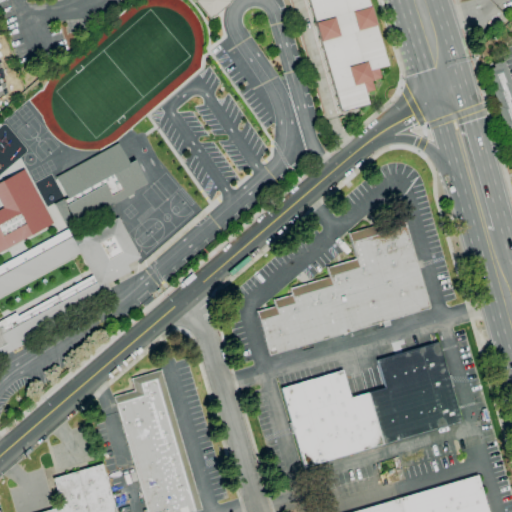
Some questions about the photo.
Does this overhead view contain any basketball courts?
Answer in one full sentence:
Yes, I can see a basketball court in this picture.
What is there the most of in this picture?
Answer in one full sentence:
What you mostly see from above here is paved ground.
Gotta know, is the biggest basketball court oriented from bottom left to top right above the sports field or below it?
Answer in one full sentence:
As seen from overhead, the biggest basketball court oriented from bottom left to top right falls below the sports field in the picture.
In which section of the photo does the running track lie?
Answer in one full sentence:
The running track sits in the top left section of the image.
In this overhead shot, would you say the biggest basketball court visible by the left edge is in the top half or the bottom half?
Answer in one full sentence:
The biggest basketball court visible by the left edge is in the top half of the image.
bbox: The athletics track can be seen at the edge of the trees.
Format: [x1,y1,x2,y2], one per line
[32,0,203,151]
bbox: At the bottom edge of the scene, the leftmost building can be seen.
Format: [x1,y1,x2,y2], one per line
[36,464,117,512]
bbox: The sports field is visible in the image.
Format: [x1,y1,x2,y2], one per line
[52,7,196,142]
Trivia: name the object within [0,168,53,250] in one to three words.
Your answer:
building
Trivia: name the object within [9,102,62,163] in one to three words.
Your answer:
basketball court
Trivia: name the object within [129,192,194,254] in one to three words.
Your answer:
basketball court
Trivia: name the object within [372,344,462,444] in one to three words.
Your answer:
building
